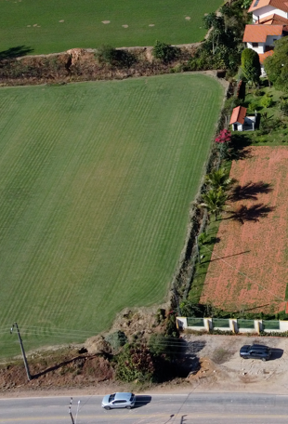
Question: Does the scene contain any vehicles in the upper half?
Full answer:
No, there's no vehicle to be seen in the upper half.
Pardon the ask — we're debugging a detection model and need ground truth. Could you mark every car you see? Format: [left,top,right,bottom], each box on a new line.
[101,390,136,409]
[239,343,272,361]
